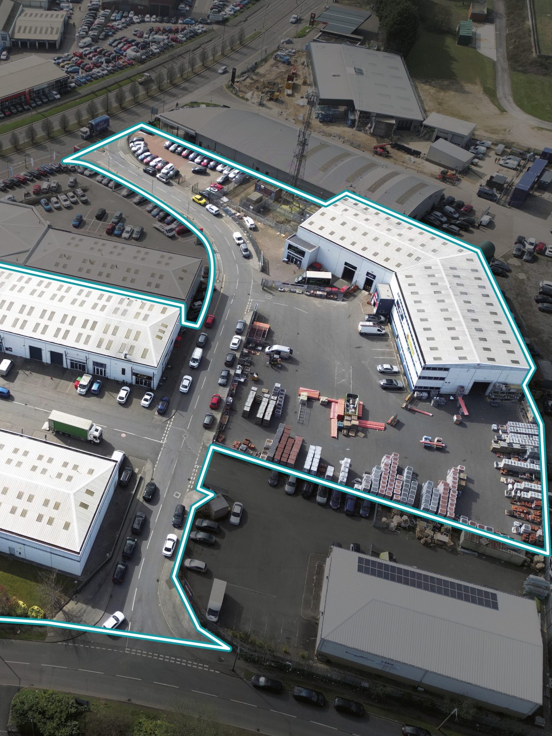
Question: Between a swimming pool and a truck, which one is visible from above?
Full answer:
The image shows a truck.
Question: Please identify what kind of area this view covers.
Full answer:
The picture captures an industrial area.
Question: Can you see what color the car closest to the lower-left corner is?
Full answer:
In this view, the car closest to the lower-left corner is white.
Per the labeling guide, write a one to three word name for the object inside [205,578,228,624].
vehicle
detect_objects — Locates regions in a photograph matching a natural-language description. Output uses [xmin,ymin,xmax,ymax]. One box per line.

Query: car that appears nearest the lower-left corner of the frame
[101,609,126,635]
